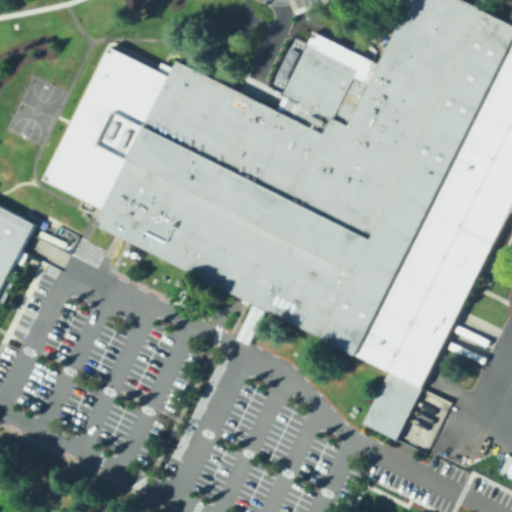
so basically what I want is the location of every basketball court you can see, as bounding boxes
[7,73,68,148]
